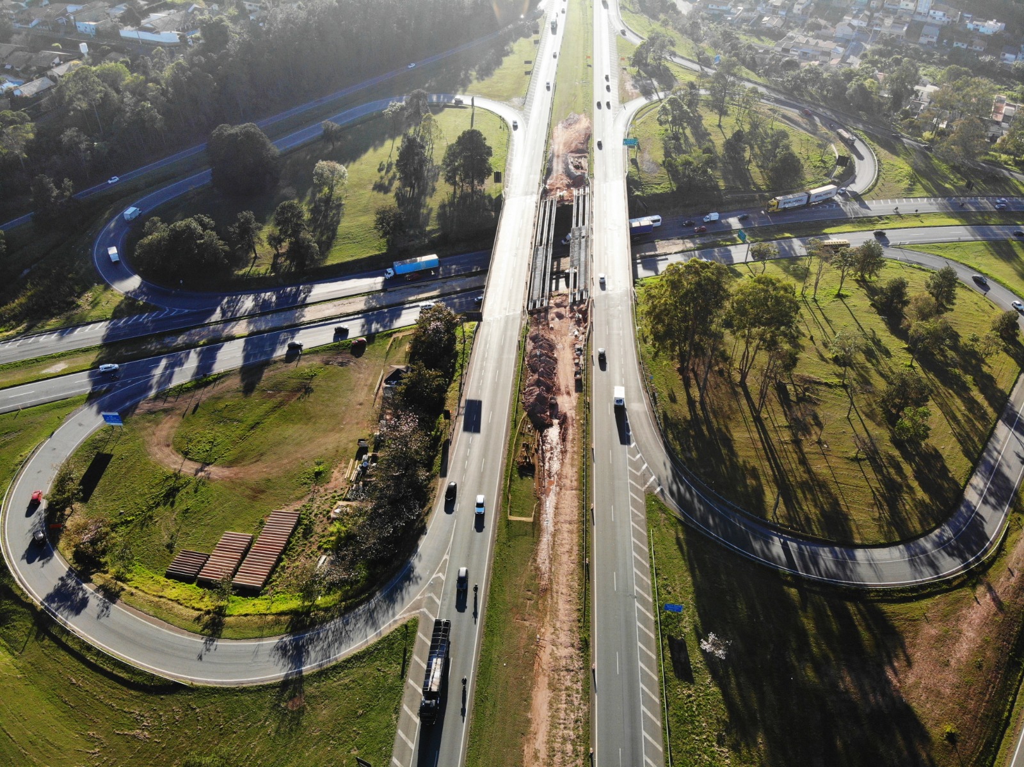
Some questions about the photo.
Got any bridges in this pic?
Yes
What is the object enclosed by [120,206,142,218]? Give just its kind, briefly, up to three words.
vehicle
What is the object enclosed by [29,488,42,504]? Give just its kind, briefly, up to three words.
vehicle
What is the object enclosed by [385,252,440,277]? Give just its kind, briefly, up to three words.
truck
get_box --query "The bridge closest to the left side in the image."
[477,189,541,320]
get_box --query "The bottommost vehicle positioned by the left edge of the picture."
[30,527,46,545]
